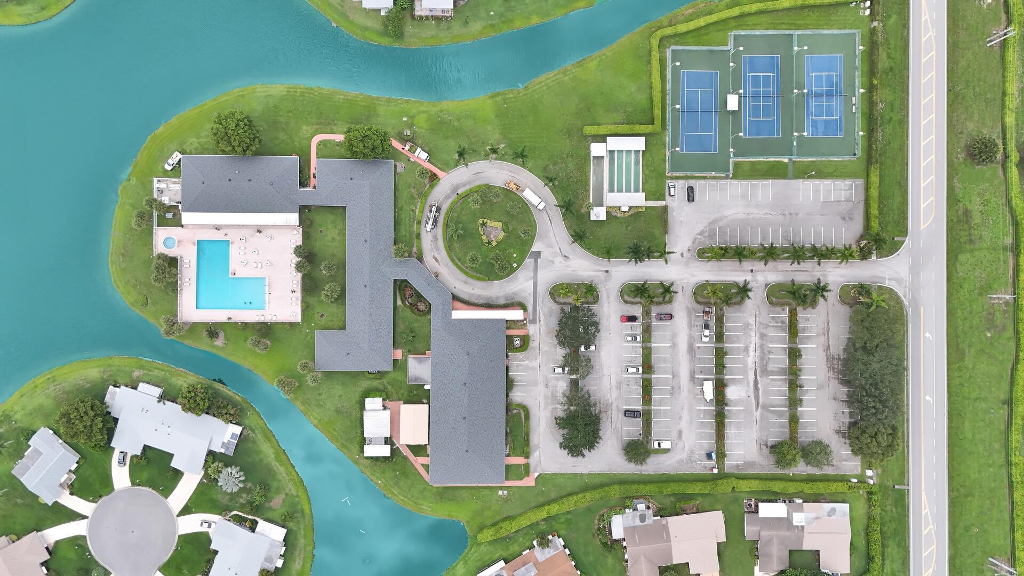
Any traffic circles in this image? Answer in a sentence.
Yes, you can see a traffic circle in this photo.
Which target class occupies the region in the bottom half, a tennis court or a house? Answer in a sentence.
You can see a house in the bottom half.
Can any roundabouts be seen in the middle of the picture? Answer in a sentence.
Yes, I can see a roundabout in the middle of the picture.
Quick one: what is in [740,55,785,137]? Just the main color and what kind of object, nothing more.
blue tennis court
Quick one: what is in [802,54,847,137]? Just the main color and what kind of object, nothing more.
blue tennis court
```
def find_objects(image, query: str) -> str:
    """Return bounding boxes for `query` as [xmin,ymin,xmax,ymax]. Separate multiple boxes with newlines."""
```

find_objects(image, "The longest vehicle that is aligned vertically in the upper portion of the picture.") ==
[425,202,440,232]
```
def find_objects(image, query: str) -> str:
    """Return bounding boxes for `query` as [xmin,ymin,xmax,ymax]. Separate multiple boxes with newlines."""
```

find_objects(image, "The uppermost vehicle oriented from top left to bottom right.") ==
[405,142,429,161]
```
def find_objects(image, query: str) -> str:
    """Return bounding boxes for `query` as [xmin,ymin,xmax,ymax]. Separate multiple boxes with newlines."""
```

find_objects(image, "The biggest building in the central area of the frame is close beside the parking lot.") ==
[291,159,523,485]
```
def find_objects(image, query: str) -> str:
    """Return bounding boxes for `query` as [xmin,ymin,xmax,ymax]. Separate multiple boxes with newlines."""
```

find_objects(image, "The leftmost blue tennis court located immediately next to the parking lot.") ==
[677,70,722,153]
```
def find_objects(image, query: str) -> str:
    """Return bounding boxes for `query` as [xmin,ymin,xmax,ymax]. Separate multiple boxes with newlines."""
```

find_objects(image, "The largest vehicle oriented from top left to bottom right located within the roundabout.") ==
[522,189,546,210]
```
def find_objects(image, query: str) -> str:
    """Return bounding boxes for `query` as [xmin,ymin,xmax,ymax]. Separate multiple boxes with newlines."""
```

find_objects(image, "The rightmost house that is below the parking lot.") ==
[743,497,851,574]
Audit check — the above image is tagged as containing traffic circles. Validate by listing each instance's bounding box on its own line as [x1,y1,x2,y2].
[423,166,558,300]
